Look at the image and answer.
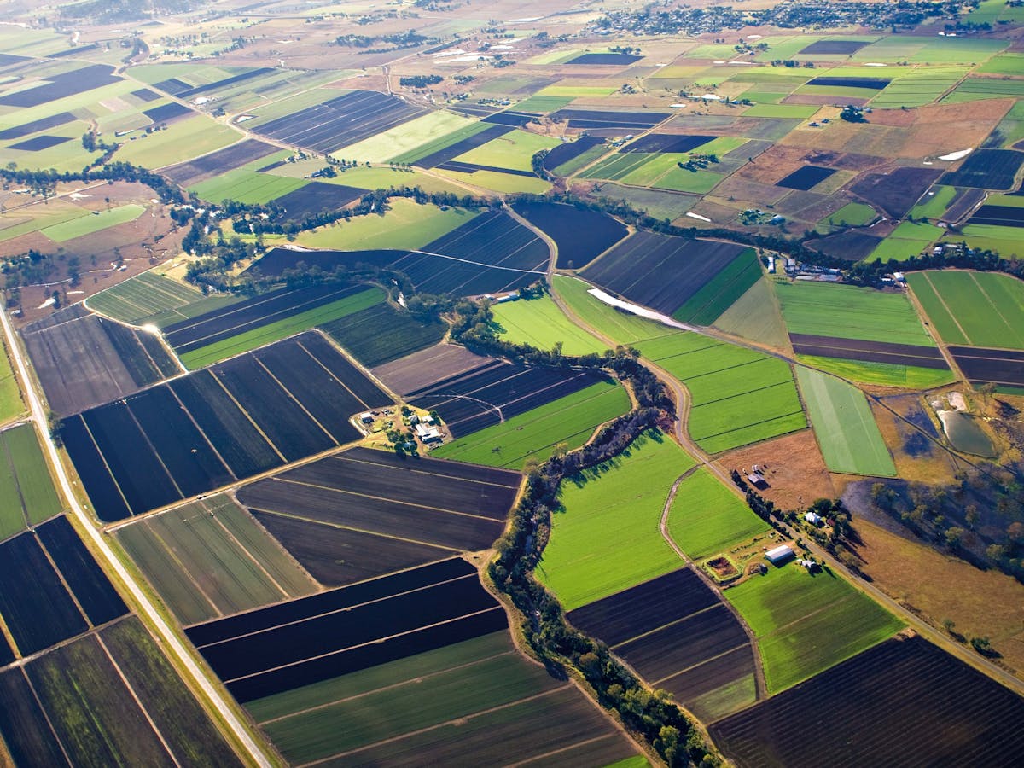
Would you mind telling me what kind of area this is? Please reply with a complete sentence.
This looks like farmland.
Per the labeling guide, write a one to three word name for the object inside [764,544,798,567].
shed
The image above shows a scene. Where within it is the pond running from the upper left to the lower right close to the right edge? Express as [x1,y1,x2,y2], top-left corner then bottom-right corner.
[937,410,996,456]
